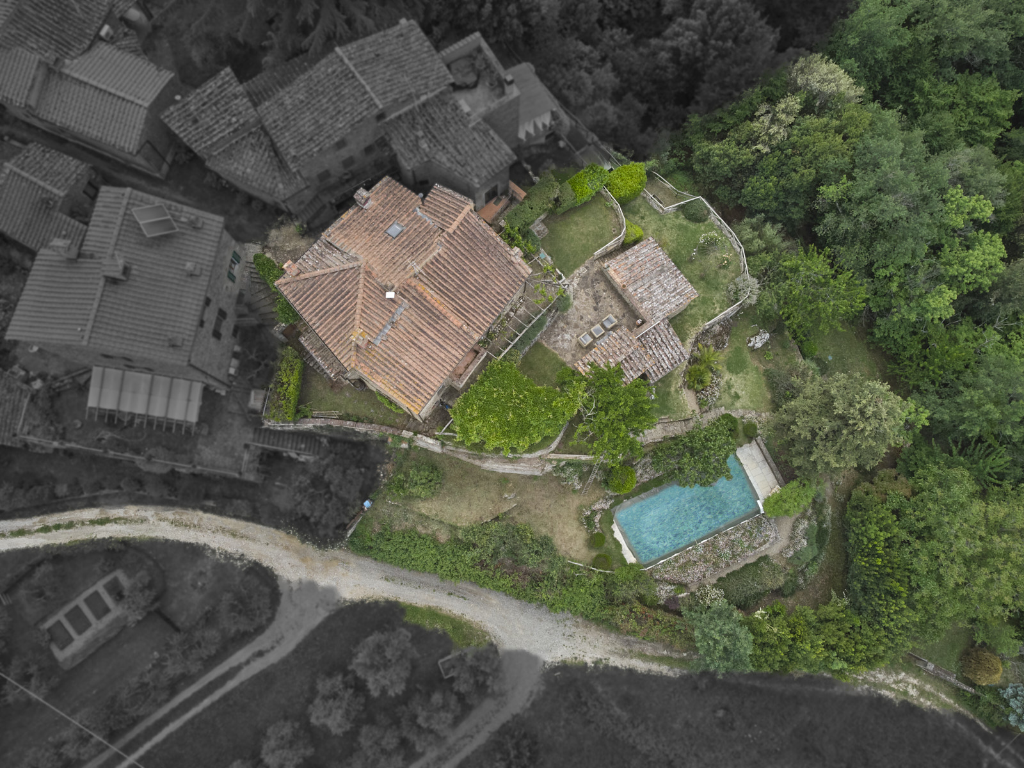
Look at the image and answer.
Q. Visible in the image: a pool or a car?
pool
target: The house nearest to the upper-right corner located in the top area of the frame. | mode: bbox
[600,236,700,328]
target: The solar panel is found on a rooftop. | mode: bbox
[131,203,186,246]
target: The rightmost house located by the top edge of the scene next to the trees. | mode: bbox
[160,14,516,222]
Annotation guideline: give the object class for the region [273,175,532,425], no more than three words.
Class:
house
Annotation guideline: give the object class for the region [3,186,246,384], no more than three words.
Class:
house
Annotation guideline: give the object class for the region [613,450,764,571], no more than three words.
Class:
swimming pool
